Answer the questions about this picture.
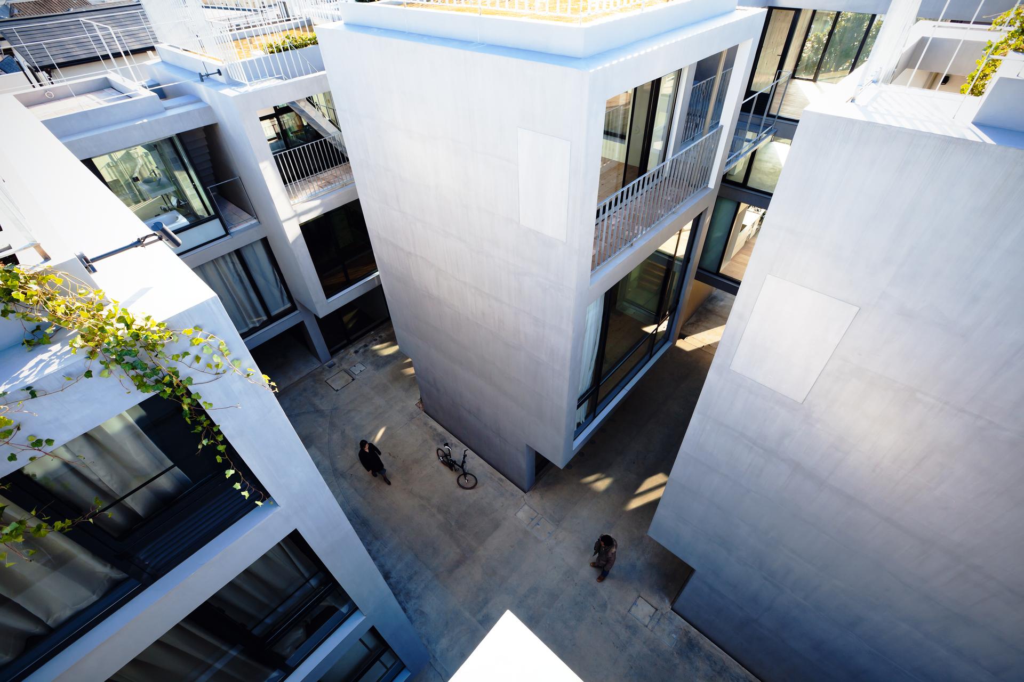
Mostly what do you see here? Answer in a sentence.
Most of the picture is covered by buildings.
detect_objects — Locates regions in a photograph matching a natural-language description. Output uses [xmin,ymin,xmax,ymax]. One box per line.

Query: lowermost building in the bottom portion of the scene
[451,613,578,682]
